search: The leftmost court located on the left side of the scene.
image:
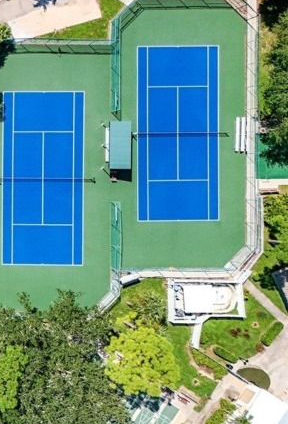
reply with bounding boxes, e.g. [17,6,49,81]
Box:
[0,43,112,340]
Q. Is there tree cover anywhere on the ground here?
Yes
